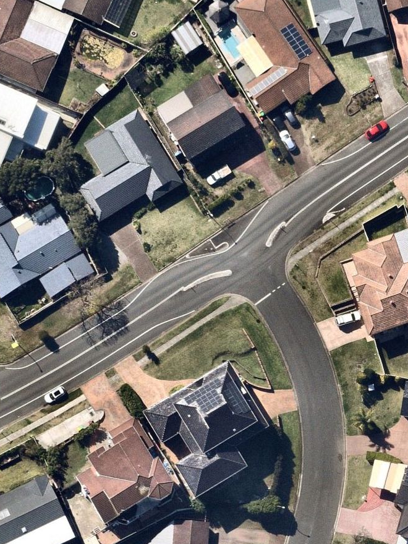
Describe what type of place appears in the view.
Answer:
residential area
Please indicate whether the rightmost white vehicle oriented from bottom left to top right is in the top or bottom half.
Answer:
top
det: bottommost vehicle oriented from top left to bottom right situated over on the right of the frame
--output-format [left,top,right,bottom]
[278,128,298,152]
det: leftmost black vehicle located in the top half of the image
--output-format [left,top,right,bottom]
[219,72,238,96]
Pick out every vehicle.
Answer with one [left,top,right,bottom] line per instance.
[335,313,362,325]
[269,106,289,130]
[205,165,233,186]
[278,128,298,152]
[219,72,238,96]
[44,385,68,404]
[283,104,300,130]
[364,122,388,139]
